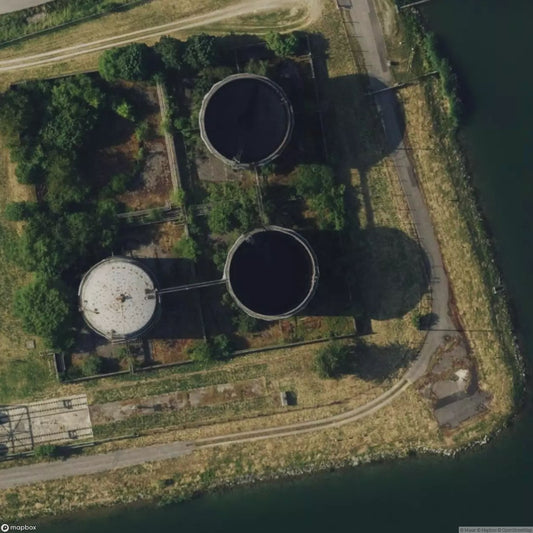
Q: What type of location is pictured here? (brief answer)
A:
industrial area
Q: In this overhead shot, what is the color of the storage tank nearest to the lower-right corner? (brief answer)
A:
black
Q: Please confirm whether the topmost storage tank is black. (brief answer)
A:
Yes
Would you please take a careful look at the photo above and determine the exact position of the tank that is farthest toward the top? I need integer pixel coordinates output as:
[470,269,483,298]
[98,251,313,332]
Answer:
[198,72,294,168]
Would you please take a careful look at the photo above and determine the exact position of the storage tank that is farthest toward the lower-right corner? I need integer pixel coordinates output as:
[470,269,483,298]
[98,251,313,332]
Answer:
[224,225,319,321]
